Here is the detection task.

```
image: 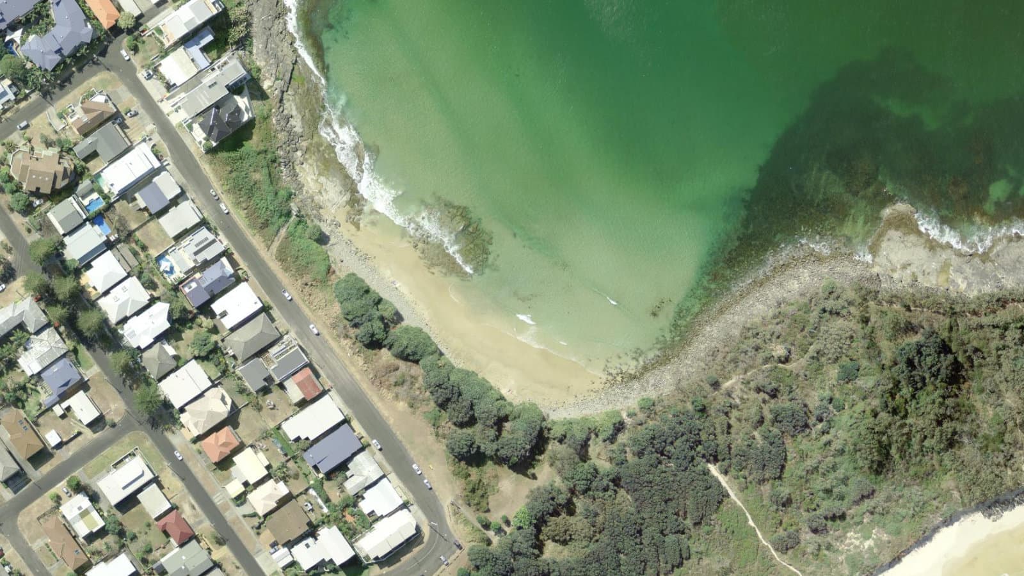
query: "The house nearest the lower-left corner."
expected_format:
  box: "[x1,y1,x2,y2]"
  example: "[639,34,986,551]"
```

[40,516,86,571]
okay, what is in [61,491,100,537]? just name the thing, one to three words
house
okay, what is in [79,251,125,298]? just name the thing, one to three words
house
